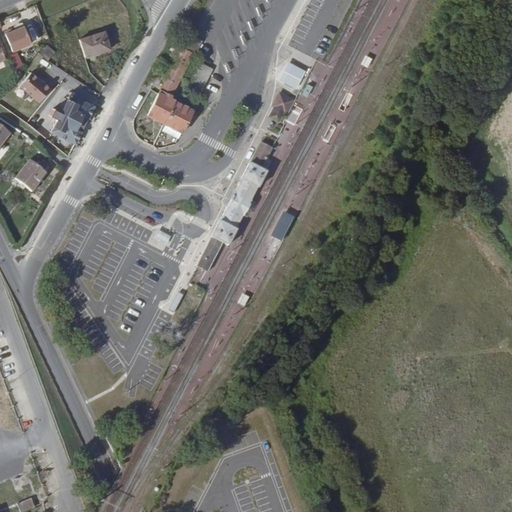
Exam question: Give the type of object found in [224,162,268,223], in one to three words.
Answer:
train station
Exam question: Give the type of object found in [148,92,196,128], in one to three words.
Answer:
house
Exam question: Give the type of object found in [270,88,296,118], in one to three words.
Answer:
building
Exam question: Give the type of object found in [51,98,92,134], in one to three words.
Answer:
house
